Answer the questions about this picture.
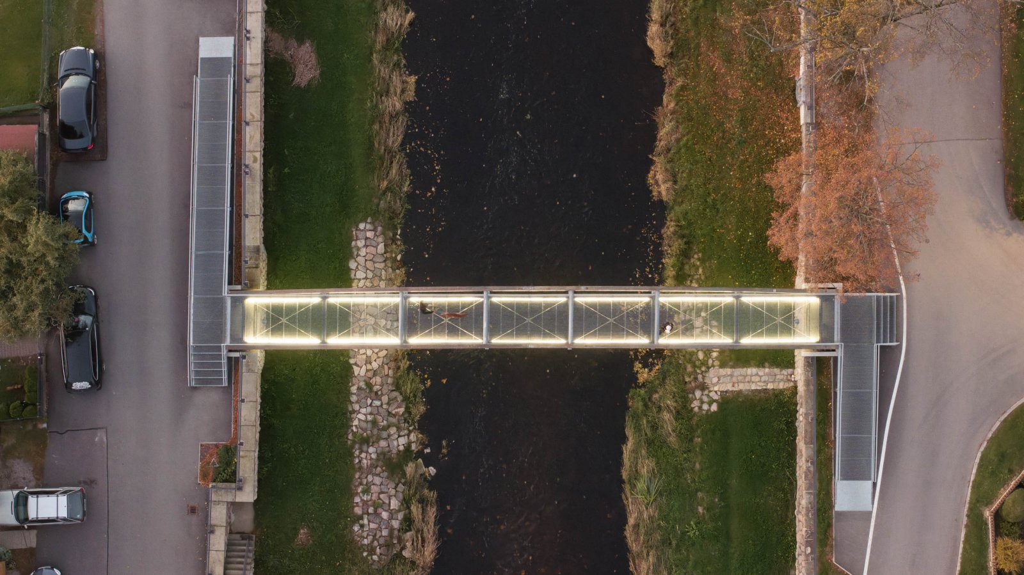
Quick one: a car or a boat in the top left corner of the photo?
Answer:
car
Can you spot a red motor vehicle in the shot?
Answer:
No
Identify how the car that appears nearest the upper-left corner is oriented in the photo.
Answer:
vertically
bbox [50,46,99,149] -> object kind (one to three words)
car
